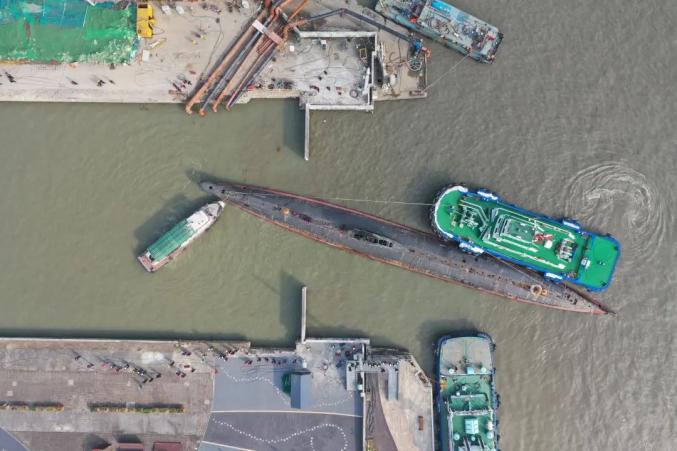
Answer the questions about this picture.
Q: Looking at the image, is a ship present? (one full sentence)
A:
Yes, the image includes a ship.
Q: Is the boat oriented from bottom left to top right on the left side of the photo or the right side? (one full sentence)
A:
The boat oriented from bottom left to top right is on the left side of the image.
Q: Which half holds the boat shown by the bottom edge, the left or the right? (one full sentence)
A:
The boat shown by the bottom edge is on the right side of the image.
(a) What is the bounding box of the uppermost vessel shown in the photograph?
[376,0,506,64]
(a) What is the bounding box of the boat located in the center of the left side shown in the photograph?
[137,202,227,273]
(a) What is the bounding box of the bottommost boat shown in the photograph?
[433,331,498,451]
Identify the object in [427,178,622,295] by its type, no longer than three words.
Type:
boat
